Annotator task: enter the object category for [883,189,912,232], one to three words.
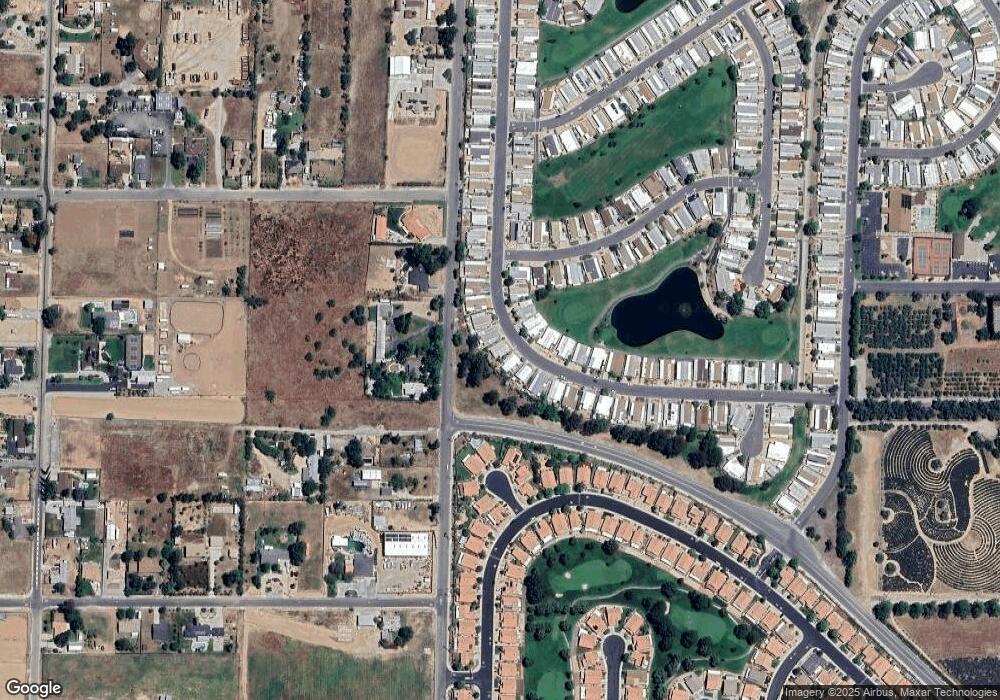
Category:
building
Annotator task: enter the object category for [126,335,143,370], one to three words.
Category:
barn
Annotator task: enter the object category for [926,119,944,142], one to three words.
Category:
house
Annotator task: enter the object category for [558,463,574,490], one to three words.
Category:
house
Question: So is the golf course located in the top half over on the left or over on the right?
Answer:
right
